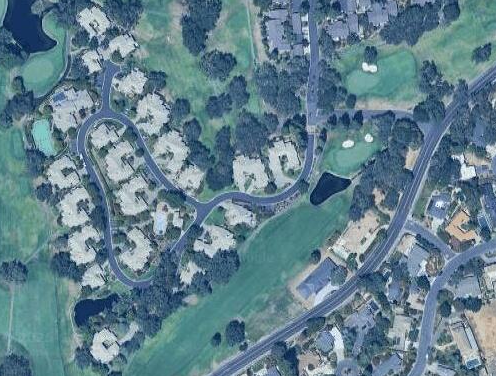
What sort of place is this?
golf course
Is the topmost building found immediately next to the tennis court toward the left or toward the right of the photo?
left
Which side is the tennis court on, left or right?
left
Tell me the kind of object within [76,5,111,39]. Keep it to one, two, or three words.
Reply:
building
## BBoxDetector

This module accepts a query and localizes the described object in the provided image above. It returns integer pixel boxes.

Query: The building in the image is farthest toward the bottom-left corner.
[90,326,123,364]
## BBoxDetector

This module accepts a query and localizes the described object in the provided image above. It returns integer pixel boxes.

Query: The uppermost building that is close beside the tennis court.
[52,90,96,129]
